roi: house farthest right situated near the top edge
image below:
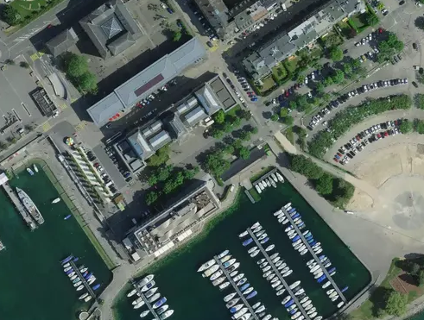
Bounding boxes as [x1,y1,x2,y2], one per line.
[318,0,364,28]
